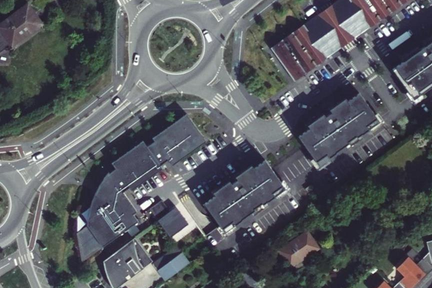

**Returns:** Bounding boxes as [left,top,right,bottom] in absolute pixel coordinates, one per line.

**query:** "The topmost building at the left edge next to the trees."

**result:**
[0,2,44,50]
